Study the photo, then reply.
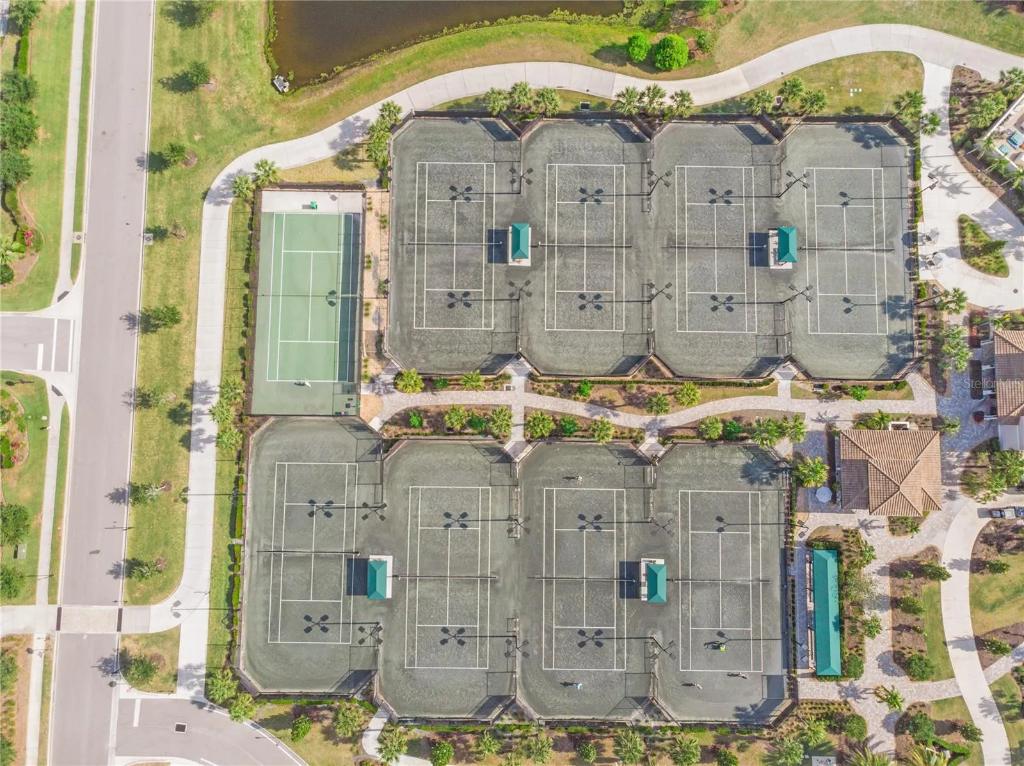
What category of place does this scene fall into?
sports ground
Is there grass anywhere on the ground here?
Yes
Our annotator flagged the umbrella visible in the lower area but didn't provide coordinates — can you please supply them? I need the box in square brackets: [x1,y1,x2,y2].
[815,485,832,502]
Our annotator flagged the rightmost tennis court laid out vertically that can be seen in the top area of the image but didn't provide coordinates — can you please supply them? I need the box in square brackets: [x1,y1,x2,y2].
[780,123,913,378]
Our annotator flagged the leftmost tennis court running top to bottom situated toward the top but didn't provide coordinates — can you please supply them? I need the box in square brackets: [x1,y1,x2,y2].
[252,193,361,415]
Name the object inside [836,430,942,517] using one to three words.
building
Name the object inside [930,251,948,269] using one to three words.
umbrella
